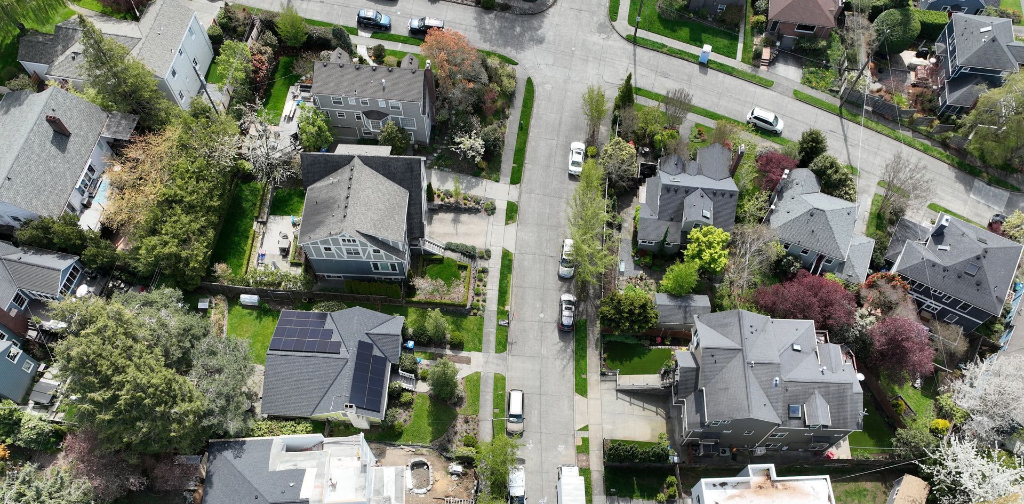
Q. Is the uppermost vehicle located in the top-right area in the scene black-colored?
No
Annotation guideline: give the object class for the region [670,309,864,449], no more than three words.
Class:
house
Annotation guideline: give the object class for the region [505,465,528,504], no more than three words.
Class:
vehicle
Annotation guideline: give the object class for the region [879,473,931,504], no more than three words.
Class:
shed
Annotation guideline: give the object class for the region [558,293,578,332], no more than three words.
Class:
car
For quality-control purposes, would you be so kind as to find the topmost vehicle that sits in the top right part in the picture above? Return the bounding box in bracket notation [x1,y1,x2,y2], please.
[747,108,784,135]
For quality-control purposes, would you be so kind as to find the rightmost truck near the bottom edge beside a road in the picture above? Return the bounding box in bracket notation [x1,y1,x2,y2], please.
[556,464,585,504]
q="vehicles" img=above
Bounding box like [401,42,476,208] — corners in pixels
[558,293,578,332]
[505,465,528,504]
[747,108,784,135]
[504,389,526,436]
[556,464,585,504]
[568,142,586,177]
[985,209,1008,233]
[409,14,443,34]
[557,238,577,280]
[356,10,392,31]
